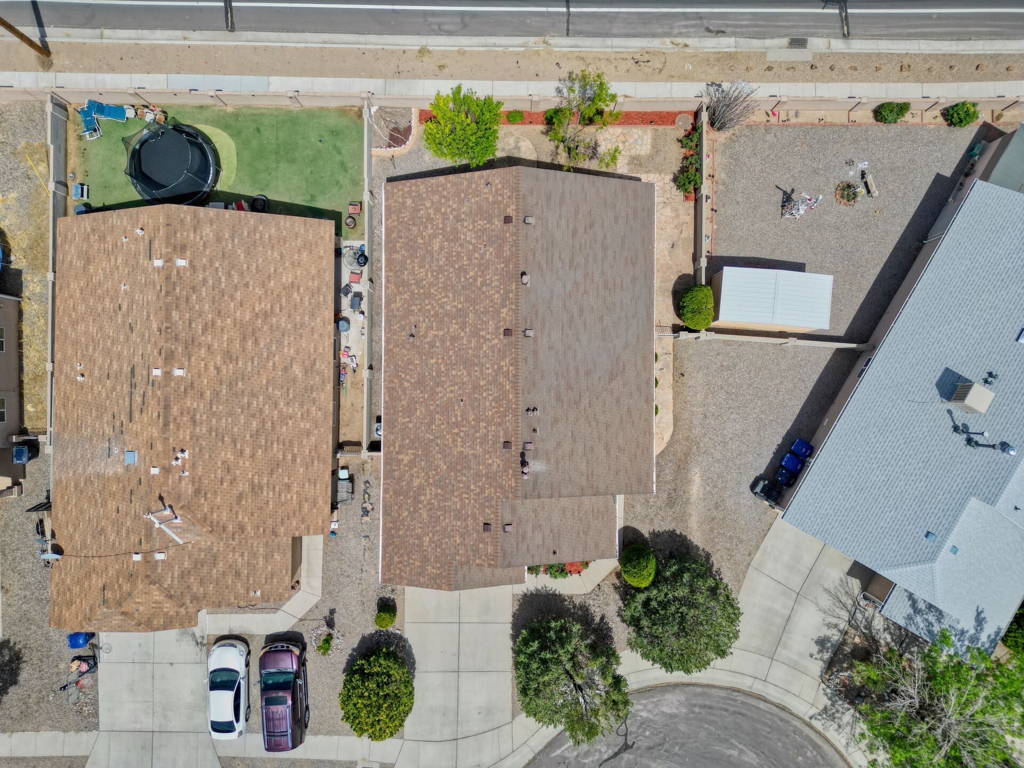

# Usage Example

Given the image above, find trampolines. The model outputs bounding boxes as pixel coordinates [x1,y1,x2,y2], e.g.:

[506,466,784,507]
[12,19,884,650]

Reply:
[121,114,221,206]
[0,227,14,291]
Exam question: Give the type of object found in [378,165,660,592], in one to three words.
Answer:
house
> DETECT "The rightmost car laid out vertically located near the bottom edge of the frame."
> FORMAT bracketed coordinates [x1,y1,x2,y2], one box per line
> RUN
[256,638,309,748]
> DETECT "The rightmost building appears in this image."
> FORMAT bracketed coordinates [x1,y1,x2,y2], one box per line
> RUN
[775,120,1024,646]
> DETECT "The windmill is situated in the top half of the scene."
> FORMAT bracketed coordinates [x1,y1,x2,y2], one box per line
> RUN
[781,195,823,220]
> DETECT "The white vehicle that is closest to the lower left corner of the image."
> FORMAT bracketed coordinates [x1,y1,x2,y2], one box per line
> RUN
[202,637,254,740]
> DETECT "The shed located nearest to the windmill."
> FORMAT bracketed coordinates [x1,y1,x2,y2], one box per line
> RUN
[712,266,833,333]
